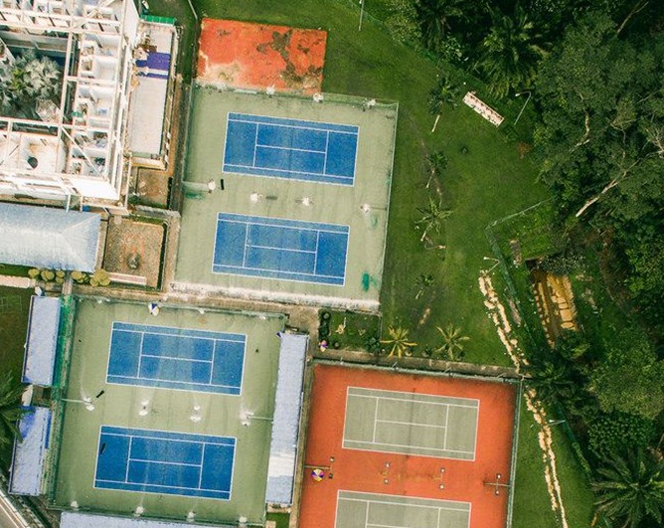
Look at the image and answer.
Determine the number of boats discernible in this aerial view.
none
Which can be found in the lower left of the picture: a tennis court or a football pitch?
tennis court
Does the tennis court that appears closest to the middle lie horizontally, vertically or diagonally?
horizontally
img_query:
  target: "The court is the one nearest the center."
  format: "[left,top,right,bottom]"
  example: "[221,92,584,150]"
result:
[211,213,350,285]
